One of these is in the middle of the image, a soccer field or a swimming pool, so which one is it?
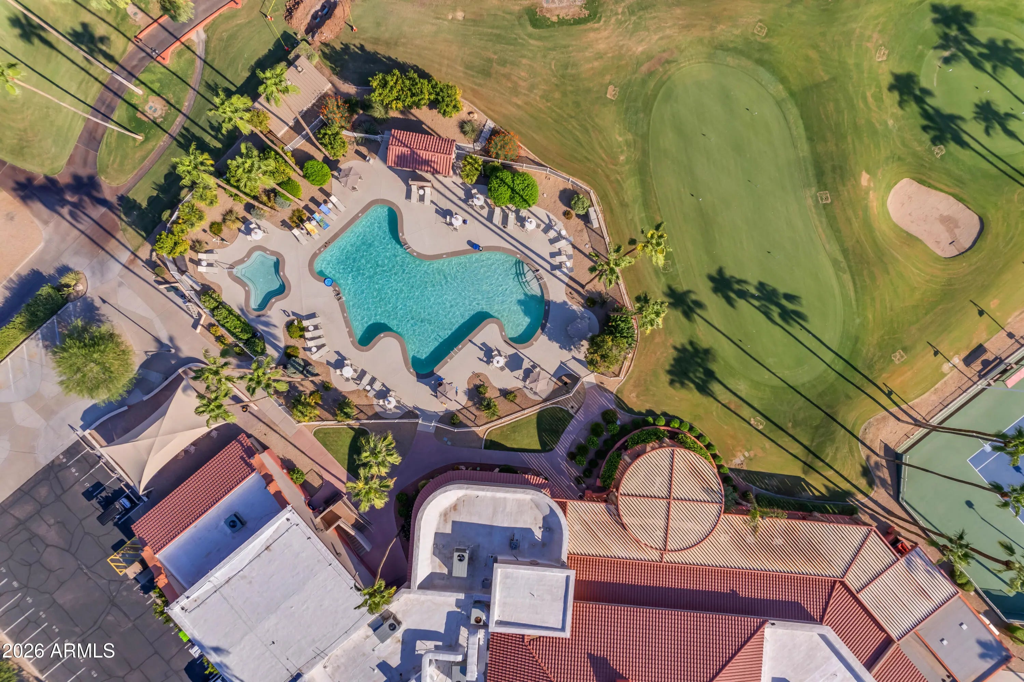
swimming pool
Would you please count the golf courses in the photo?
1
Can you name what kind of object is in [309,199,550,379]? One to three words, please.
swimming pool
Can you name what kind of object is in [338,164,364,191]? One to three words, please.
umbrella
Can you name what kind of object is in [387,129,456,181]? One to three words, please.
shed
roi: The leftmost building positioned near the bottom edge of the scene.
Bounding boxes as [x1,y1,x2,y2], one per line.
[130,434,380,682]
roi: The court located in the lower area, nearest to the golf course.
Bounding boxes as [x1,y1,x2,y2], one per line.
[902,354,1024,623]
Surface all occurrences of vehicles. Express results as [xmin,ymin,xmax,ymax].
[188,647,201,661]
[98,495,136,525]
[125,556,151,580]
